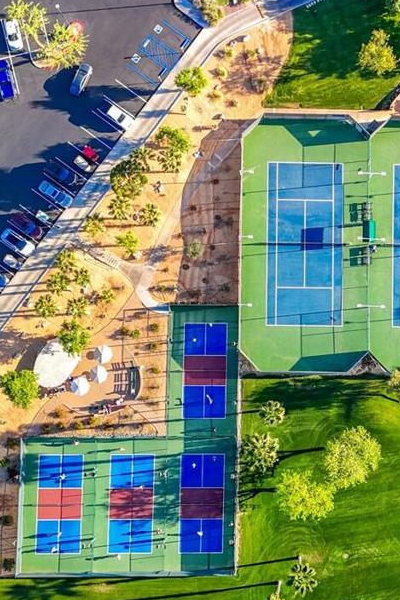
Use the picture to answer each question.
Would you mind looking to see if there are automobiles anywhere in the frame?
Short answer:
Yes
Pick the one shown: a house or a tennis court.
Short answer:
tennis court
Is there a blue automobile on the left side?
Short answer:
Yes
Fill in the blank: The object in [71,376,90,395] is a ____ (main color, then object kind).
white umbrella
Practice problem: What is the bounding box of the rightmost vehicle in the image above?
[102,103,136,131]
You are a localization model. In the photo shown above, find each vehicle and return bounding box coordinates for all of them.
[0,252,24,271]
[102,103,136,131]
[0,60,15,100]
[38,180,73,208]
[5,22,24,53]
[72,154,93,172]
[34,210,56,228]
[48,157,81,185]
[71,62,93,97]
[0,227,35,256]
[9,211,43,239]
[79,145,101,163]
